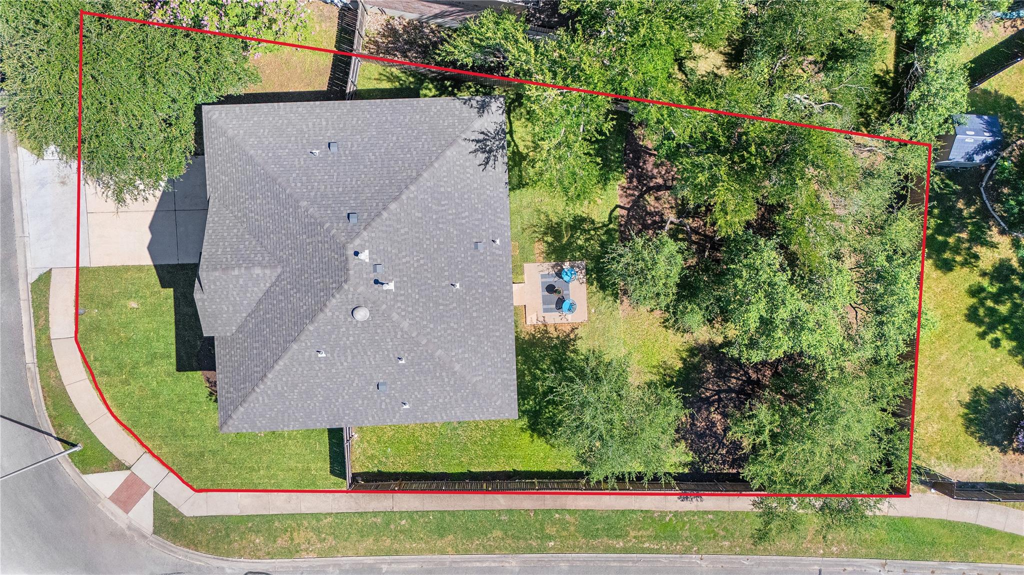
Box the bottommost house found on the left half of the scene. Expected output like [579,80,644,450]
[194,91,521,434]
